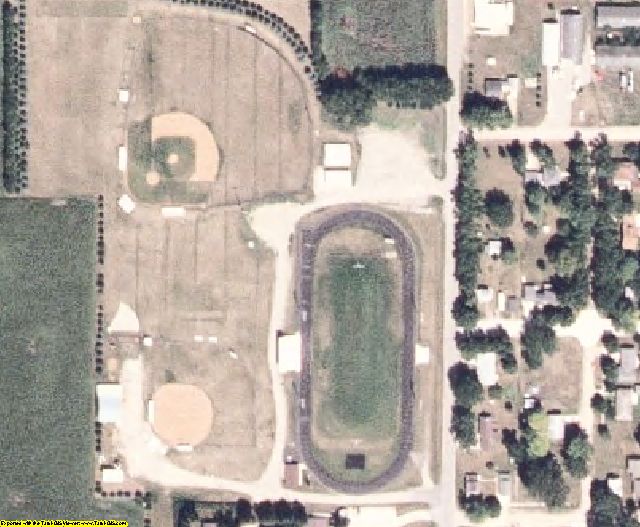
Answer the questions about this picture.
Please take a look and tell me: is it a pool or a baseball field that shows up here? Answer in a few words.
baseball field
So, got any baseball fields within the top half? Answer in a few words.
Yes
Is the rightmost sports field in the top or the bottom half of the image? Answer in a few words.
bottom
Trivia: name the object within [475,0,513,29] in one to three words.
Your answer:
building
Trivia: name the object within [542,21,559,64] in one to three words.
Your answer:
shed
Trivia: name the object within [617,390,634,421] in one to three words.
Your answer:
house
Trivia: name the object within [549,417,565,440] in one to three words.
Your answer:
house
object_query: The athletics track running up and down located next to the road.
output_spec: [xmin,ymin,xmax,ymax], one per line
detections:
[301,208,415,491]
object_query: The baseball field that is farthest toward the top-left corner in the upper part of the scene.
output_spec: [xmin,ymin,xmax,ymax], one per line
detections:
[131,19,312,205]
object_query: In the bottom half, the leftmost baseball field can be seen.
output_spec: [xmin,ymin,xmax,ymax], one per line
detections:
[152,384,213,446]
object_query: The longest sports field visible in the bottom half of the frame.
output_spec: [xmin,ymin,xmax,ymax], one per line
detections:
[314,222,401,479]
